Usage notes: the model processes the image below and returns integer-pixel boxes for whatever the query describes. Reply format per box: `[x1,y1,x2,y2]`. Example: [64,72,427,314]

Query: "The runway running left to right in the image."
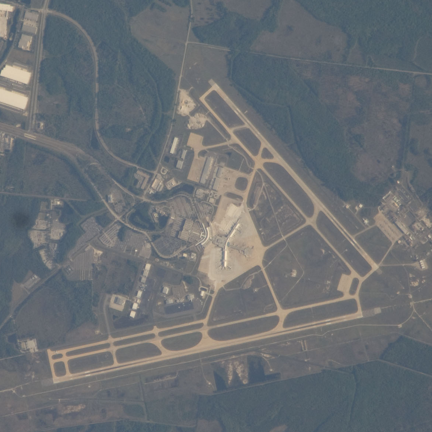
[52,312,362,383]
